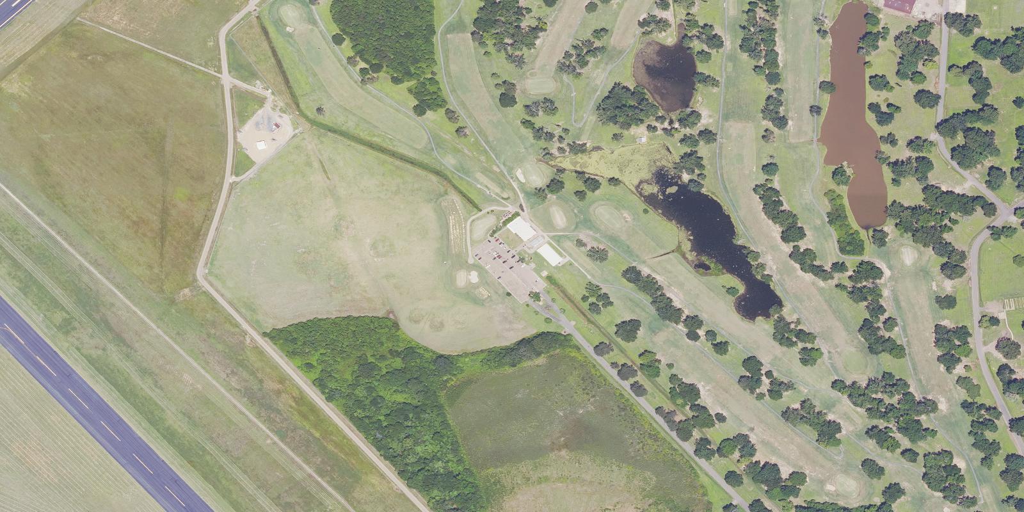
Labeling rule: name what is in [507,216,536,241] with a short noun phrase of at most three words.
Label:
building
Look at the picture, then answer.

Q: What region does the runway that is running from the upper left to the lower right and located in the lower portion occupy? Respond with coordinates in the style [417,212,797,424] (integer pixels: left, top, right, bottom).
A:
[0,296,213,512]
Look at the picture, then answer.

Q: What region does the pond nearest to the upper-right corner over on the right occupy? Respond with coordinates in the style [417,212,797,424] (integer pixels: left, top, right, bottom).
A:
[817,1,888,230]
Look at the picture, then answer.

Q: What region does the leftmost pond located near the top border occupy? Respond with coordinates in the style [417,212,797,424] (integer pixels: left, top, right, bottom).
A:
[633,23,697,112]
